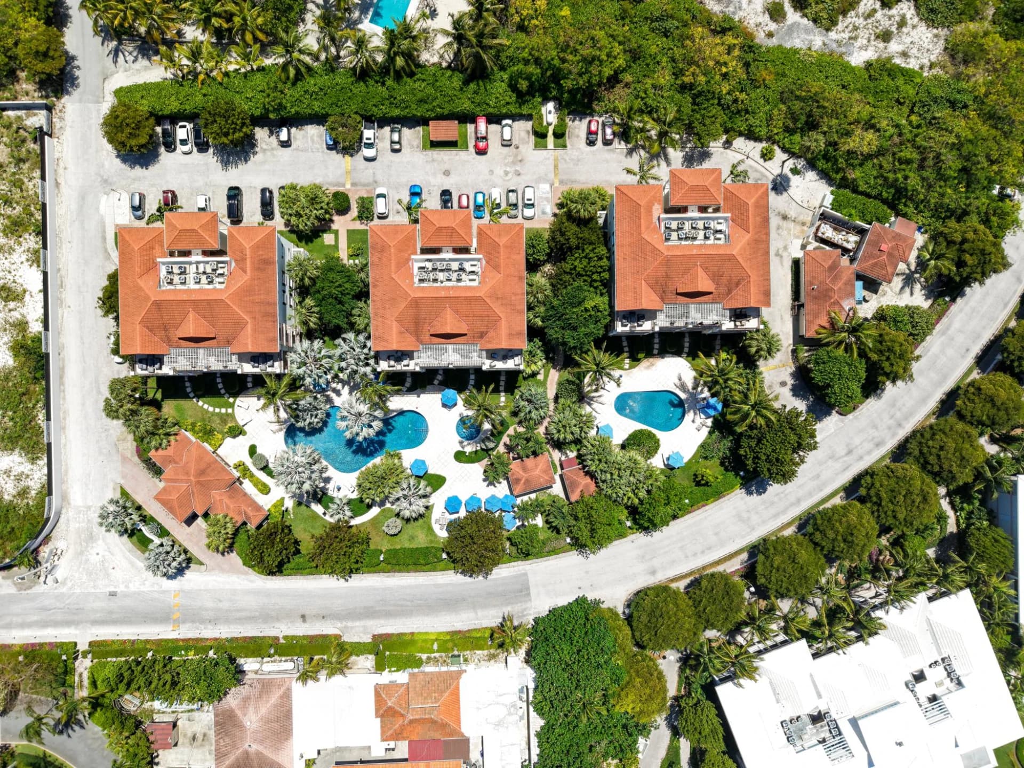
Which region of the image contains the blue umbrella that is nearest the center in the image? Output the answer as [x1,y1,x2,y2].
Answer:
[440,389,459,407]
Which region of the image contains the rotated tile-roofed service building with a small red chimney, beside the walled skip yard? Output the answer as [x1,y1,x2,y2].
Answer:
[850,217,917,284]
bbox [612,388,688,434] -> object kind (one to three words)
swimming pool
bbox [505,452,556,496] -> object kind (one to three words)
building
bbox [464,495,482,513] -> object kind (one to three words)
umbrella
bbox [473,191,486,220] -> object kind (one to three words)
vehicle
